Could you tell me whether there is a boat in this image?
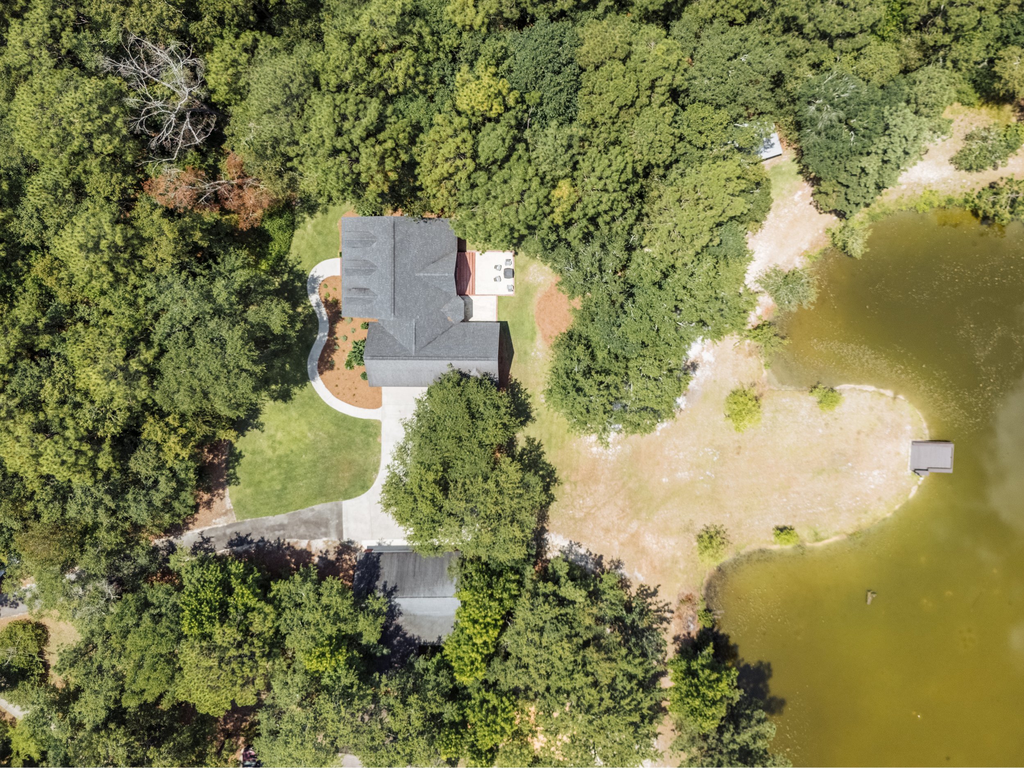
No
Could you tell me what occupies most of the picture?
trees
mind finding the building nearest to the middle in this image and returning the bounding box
[342,216,499,386]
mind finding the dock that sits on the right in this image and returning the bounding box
[907,438,954,481]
